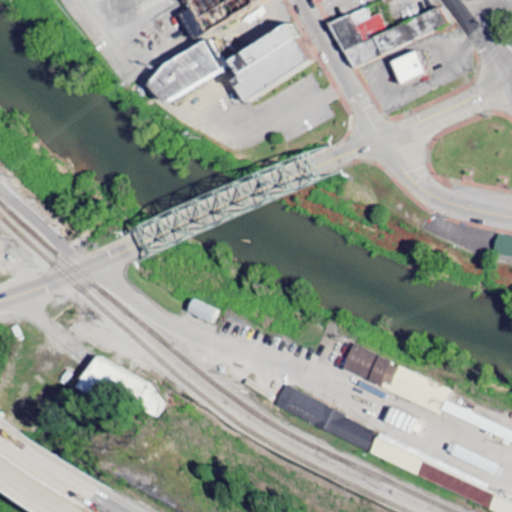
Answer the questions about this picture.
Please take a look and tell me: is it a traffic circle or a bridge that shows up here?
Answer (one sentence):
Looking from above, you can make out a bridge.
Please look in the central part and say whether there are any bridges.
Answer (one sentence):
Yes, the scene does show a bridge in the central part.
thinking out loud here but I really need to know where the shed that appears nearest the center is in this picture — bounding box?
[188,299,220,322]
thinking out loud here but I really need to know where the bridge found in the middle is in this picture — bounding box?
[128,144,338,260]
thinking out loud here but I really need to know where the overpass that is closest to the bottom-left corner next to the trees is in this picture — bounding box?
[0,418,149,512]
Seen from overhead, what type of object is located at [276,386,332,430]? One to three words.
shed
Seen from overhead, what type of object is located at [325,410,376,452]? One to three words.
shed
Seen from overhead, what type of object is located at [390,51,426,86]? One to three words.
building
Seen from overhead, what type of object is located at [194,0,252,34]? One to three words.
building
